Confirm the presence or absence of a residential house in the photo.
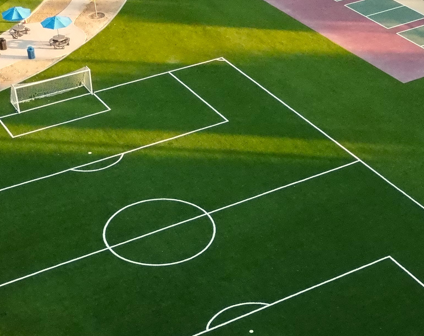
No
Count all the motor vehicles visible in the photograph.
0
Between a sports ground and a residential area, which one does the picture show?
sports ground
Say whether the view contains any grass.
Yes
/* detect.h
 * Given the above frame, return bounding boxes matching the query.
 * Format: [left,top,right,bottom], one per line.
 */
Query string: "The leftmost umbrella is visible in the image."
[0,6,29,24]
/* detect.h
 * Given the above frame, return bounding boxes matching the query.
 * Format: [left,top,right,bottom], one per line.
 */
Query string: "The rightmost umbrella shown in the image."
[42,14,72,33]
